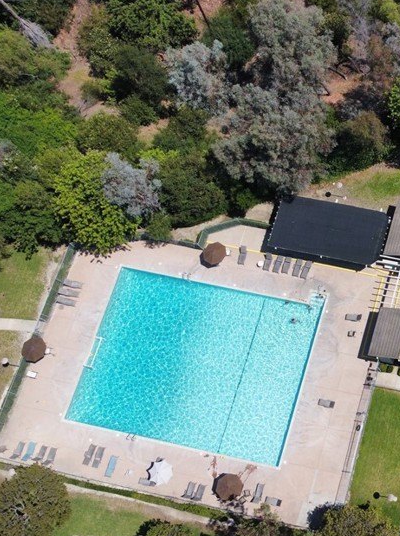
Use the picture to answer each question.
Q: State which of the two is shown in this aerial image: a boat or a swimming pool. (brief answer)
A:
swimming pool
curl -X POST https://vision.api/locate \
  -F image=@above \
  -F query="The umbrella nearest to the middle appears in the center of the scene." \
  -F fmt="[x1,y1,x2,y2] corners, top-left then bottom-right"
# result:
[203,243,227,265]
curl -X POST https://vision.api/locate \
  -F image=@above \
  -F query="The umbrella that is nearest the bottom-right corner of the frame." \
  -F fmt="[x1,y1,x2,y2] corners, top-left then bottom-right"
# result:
[215,472,244,501]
